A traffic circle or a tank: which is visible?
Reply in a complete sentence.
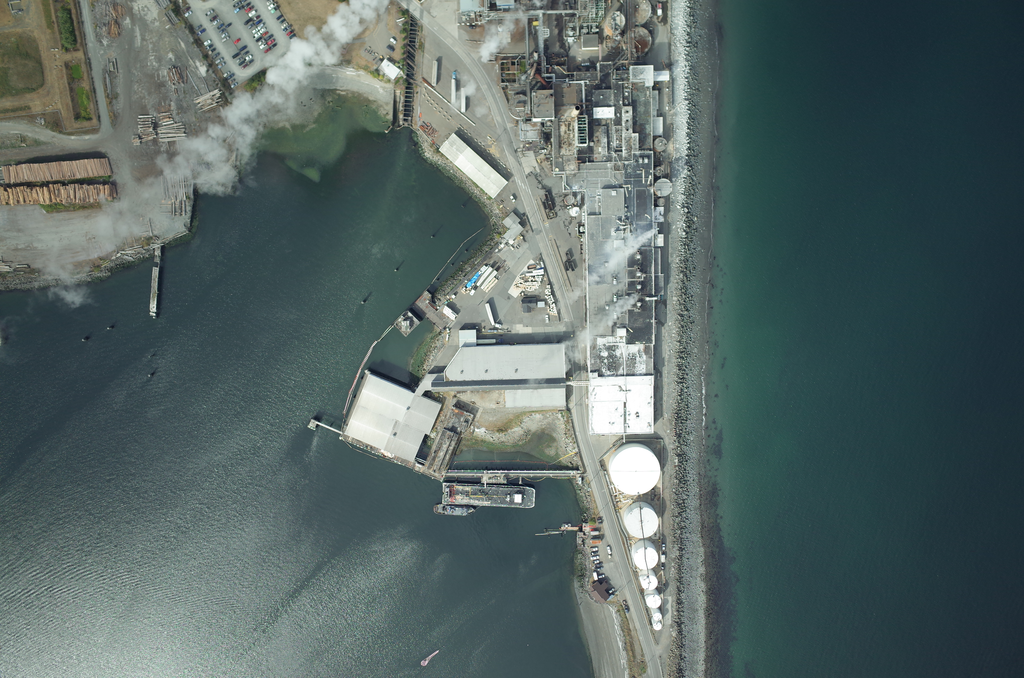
Of the two, only a tank appears.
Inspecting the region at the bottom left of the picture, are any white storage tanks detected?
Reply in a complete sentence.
No, I see no white storage tank at the bottom left of the picture.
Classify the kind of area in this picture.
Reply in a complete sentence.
This image shows a port.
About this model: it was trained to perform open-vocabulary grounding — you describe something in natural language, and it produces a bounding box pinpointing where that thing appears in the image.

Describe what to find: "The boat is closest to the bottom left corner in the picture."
[434,503,474,516]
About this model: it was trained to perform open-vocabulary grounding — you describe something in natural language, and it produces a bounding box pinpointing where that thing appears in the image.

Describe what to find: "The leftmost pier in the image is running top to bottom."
[149,246,162,312]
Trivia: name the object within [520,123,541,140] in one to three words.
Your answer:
building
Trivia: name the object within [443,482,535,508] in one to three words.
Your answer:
ship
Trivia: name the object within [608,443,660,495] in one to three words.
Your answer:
storage tank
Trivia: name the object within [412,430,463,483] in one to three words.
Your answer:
pier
